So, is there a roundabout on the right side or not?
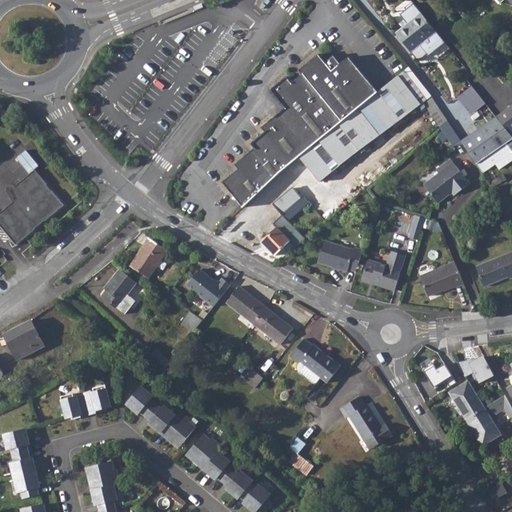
Yes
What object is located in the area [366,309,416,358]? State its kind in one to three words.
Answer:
roundabout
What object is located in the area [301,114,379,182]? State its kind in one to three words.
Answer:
building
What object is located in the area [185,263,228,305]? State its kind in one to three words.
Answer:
house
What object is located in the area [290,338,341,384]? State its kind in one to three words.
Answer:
house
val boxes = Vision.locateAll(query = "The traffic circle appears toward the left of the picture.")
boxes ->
[0,0,86,96]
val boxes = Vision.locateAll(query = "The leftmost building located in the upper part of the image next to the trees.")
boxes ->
[0,150,63,244]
